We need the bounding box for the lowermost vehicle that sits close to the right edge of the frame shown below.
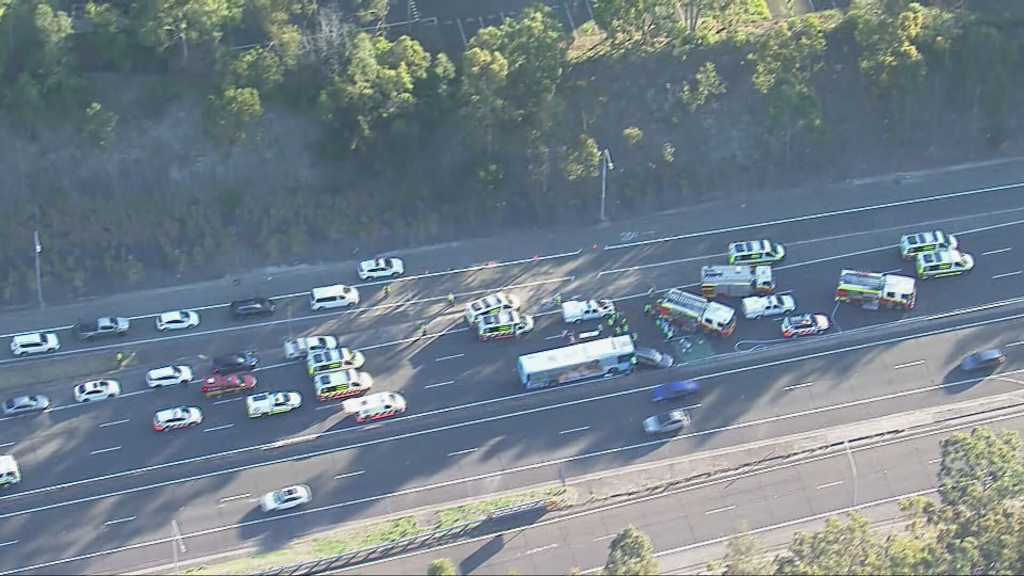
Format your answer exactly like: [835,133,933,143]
[959,350,1004,374]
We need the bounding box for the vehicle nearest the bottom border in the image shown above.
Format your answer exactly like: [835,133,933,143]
[260,486,311,514]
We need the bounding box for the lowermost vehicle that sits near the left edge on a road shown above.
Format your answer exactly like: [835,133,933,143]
[0,455,24,484]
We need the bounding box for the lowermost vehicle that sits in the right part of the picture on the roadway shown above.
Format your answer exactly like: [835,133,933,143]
[643,410,690,436]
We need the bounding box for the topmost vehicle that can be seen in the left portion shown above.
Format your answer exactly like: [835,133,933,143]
[358,257,404,282]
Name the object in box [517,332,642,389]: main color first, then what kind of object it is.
white bus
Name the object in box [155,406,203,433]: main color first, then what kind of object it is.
white car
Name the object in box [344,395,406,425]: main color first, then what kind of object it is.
white van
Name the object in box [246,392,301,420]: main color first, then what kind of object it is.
white truck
